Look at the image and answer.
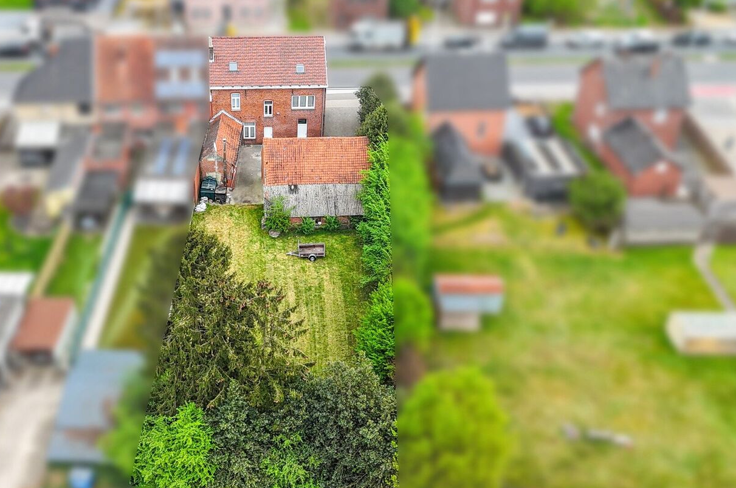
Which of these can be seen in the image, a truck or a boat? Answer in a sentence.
The one in the frame is a truck.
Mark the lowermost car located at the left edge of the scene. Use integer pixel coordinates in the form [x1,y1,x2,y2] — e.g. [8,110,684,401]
[0,41,35,60]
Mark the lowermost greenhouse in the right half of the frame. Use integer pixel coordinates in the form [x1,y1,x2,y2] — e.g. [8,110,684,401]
[662,318,736,352]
